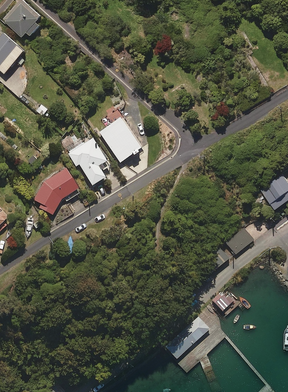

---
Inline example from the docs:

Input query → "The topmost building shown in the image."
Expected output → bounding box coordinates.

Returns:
[4,0,44,37]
